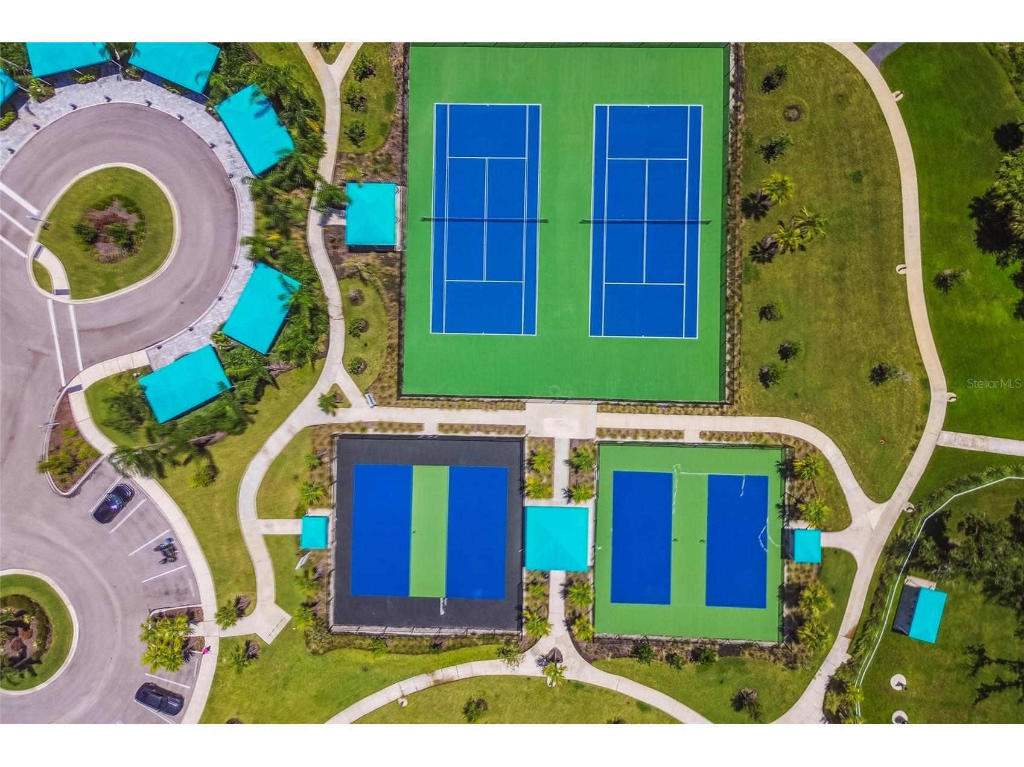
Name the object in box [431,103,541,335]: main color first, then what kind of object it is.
blue tennis court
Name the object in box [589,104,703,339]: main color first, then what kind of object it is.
blue tennis court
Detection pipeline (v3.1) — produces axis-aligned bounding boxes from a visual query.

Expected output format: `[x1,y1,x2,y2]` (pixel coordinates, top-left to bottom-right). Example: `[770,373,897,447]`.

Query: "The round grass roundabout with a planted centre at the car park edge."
[0,569,78,696]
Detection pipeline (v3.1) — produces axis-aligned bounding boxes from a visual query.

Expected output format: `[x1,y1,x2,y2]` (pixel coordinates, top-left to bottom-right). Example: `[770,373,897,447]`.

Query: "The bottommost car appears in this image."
[132,682,186,715]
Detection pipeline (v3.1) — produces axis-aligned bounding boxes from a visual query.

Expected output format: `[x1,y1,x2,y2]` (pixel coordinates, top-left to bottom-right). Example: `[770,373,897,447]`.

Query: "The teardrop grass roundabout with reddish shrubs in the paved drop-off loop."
[26,162,182,304]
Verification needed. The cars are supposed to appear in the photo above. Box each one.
[91,482,137,526]
[132,682,186,715]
